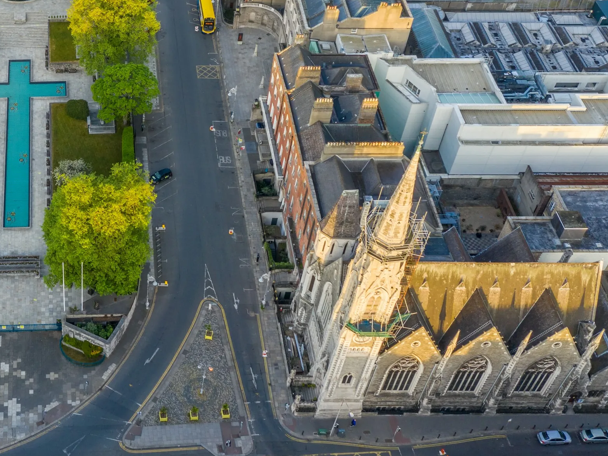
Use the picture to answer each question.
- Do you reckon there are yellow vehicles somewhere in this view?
Yes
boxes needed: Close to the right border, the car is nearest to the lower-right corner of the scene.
[579,428,608,445]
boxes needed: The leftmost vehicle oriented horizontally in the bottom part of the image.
[535,429,575,447]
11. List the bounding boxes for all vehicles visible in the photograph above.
[197,0,217,36]
[535,429,575,447]
[579,428,608,445]
[150,168,175,184]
